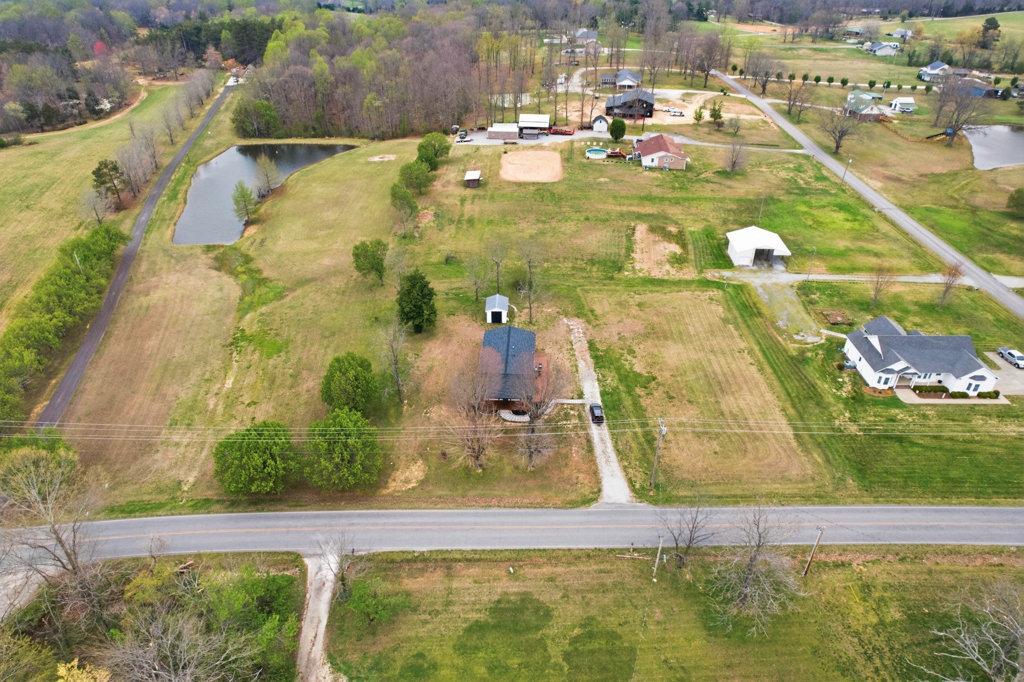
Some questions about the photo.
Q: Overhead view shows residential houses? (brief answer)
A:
Yes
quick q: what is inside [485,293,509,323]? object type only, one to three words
shed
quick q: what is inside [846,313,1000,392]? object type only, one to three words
house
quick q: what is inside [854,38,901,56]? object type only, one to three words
house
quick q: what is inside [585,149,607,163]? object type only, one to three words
swimming pool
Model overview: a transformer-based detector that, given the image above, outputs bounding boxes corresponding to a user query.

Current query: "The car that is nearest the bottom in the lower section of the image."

[587,399,607,421]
